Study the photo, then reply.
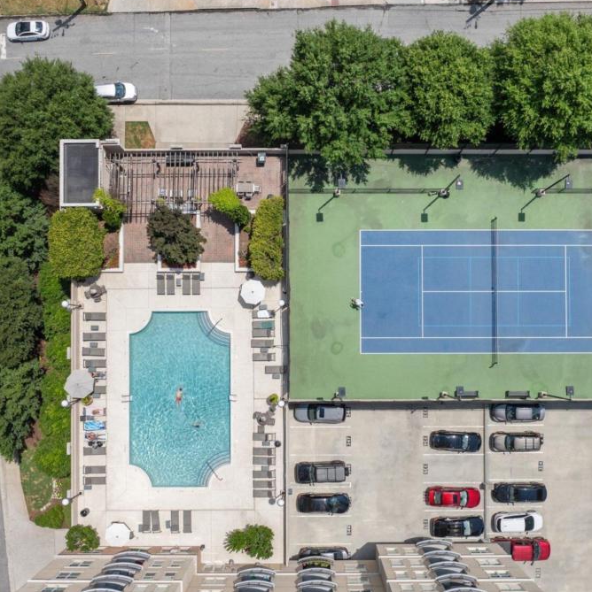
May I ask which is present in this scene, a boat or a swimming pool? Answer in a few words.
swimming pool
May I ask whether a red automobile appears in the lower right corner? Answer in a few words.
Yes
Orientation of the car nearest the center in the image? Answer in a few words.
horizontally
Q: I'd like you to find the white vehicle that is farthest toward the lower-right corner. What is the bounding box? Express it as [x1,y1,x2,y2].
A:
[491,511,542,537]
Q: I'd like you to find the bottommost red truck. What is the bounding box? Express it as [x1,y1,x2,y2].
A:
[484,538,548,566]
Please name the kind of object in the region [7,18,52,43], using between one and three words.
car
